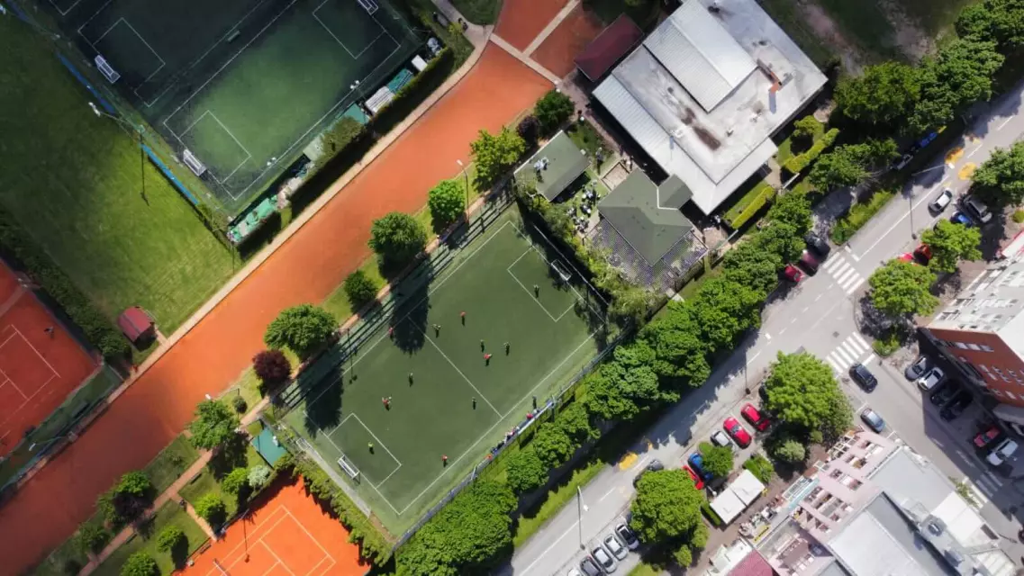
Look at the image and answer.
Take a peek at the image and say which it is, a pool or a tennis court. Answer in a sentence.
There is a tennis court in the scene.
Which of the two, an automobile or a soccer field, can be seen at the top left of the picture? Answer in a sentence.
Looking at the top left of the picture, you will find a soccer field.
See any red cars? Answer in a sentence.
Yes, there is a red car in the image.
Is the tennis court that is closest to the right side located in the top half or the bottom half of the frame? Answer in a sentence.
The tennis court that is closest to the right side sits in the bottom half of the picture.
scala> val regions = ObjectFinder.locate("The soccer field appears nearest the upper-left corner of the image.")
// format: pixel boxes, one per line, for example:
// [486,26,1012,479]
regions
[19,0,263,113]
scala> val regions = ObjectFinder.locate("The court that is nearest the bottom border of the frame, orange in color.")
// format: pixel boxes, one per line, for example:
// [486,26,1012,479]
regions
[187,474,384,576]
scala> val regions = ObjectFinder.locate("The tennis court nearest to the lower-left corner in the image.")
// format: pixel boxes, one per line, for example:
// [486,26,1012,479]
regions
[0,294,98,457]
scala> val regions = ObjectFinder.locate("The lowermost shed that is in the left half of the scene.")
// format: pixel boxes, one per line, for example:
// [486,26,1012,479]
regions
[253,429,292,469]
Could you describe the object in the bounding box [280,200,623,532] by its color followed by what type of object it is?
green soccer field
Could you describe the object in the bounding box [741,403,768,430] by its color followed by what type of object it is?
red car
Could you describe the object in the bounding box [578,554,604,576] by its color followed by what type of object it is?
gray car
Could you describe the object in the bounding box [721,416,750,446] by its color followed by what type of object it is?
red car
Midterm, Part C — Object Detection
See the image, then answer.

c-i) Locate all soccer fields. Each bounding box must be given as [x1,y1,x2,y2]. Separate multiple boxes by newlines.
[280,200,623,532]
[19,0,263,113]
[126,0,421,222]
